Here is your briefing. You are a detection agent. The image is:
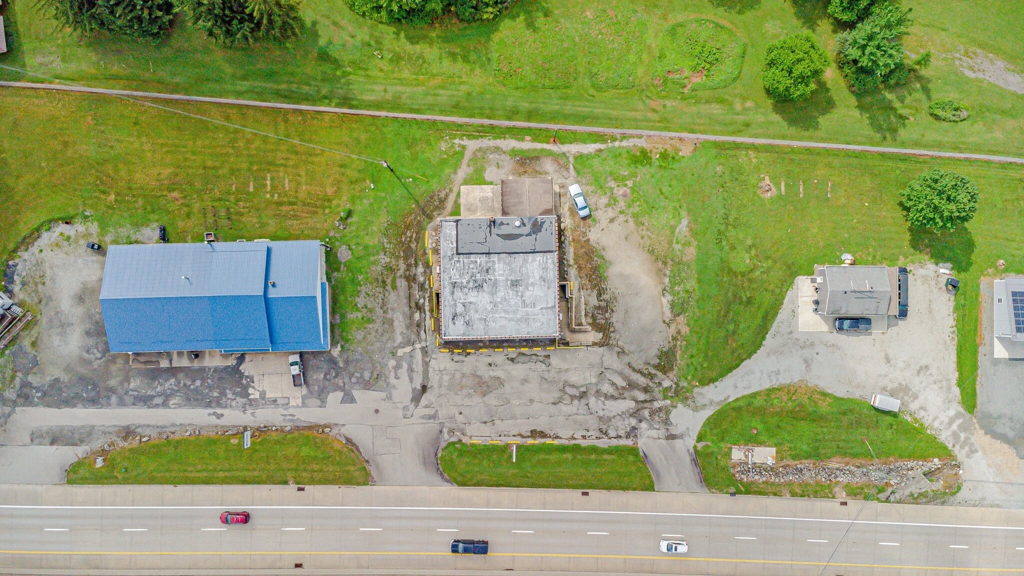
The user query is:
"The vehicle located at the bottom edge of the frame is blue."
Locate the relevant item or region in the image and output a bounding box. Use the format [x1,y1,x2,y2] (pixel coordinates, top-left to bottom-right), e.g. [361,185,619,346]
[450,538,489,555]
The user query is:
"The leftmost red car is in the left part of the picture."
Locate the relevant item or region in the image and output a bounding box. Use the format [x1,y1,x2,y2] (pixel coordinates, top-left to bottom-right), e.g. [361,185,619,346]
[220,509,250,525]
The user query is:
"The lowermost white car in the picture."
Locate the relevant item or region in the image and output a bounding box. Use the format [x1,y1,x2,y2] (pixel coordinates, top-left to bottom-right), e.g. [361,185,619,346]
[659,538,688,555]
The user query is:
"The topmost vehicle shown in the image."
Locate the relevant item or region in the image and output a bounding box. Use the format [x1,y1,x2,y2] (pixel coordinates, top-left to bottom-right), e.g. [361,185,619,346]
[570,185,589,218]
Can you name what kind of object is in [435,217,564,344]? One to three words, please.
building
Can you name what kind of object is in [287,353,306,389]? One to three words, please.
vehicle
